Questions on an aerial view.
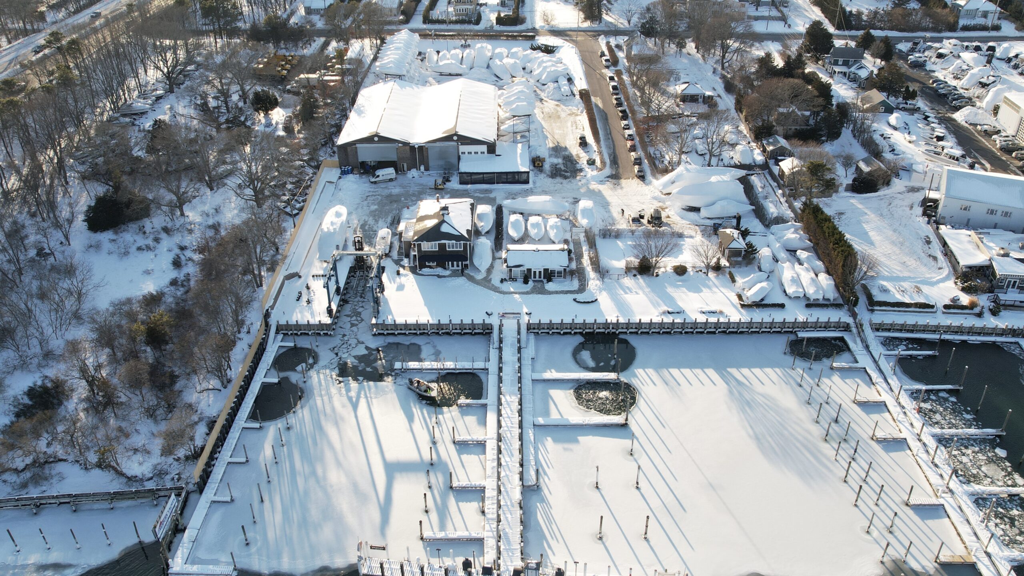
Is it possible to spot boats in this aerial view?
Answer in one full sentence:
Yes, there's a boat down there.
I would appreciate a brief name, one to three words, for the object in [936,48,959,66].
boat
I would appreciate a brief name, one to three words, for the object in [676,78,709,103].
house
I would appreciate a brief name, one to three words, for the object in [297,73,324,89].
vehicle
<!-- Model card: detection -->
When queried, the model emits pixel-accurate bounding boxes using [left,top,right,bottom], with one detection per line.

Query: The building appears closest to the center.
[499,242,569,280]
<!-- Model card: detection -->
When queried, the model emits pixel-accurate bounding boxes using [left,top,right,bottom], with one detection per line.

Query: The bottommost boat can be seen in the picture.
[406,381,440,399]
